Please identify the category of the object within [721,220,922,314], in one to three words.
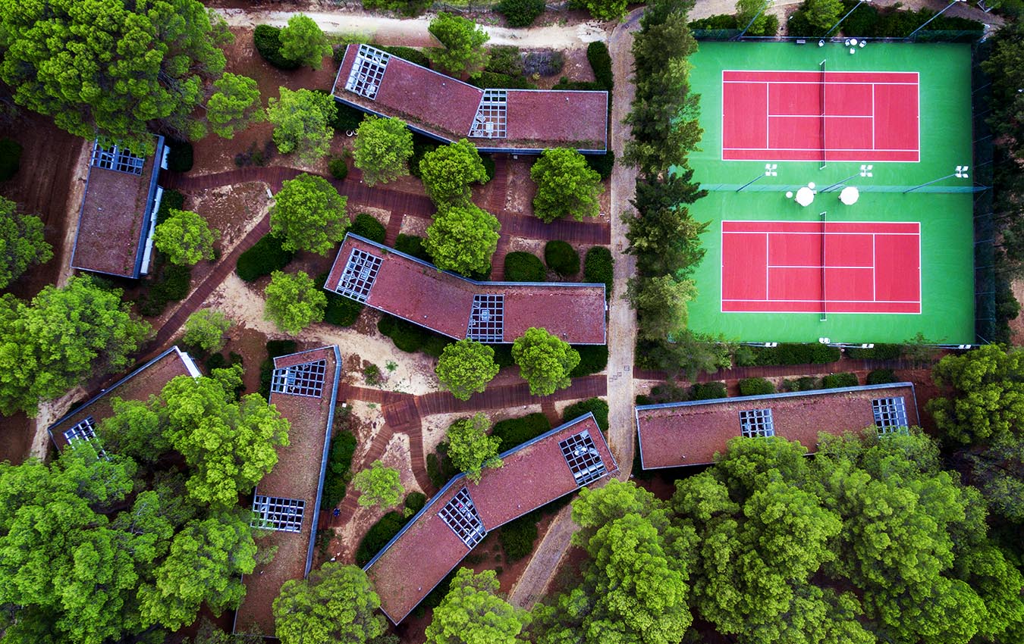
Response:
tennis court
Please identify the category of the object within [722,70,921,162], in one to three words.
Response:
tennis court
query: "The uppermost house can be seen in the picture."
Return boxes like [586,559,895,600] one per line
[331,40,608,155]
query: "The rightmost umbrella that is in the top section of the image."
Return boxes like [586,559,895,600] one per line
[836,186,858,205]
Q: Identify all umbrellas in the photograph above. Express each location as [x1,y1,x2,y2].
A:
[793,187,814,206]
[836,186,858,205]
